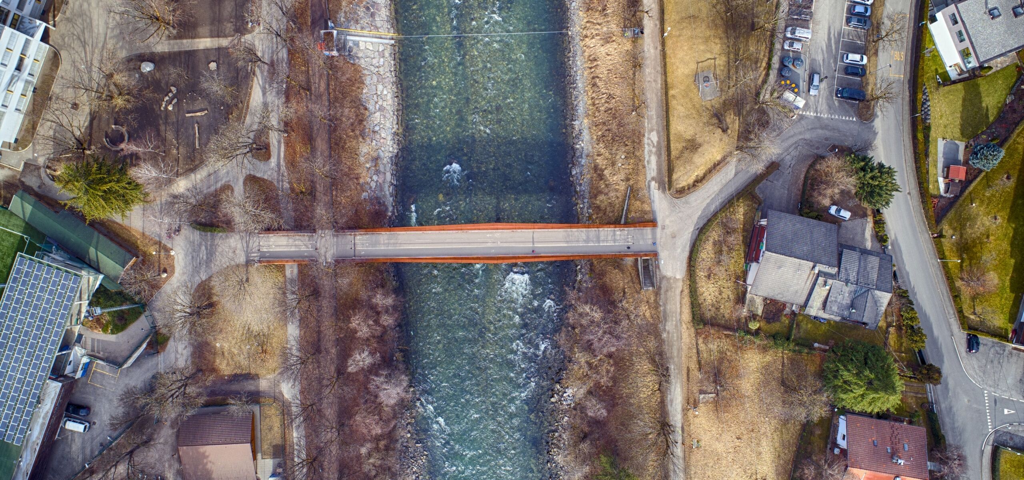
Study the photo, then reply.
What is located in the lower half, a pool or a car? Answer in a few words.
car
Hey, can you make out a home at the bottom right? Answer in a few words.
Yes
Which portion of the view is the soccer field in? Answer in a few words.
left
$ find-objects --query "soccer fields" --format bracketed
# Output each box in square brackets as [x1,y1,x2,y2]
[0,204,86,300]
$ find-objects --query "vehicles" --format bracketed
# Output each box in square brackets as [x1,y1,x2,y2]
[843,65,866,77]
[787,8,814,20]
[782,38,804,52]
[842,52,867,65]
[64,402,92,416]
[836,87,867,101]
[785,26,812,40]
[807,71,821,96]
[826,204,852,221]
[847,4,872,17]
[845,16,871,29]
[847,0,873,5]
[786,0,812,8]
[965,332,981,355]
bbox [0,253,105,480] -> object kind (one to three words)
building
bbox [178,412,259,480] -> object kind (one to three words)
building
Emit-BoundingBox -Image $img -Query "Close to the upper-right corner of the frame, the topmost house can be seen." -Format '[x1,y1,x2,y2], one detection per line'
[919,0,1024,81]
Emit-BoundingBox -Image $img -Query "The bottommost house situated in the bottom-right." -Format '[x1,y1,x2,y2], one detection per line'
[833,409,930,480]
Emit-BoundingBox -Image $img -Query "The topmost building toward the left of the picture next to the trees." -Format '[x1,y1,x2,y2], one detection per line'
[0,0,61,146]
